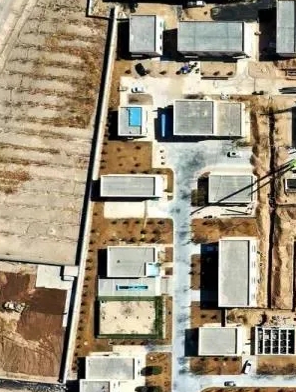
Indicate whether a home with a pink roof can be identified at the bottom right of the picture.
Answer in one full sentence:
No, no home with a pink roof is visible at the bottom right of the picture.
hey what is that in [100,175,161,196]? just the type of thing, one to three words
building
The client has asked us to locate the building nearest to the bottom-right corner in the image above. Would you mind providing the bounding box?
[198,325,242,355]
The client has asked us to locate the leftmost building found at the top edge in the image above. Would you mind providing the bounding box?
[130,15,163,58]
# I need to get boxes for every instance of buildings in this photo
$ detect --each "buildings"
[119,106,147,136]
[63,266,79,277]
[79,355,142,392]
[106,246,162,277]
[210,175,257,203]
[276,0,296,59]
[130,15,163,58]
[98,278,165,295]
[174,100,248,139]
[198,325,242,355]
[100,175,161,196]
[177,21,249,57]
[219,237,257,307]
